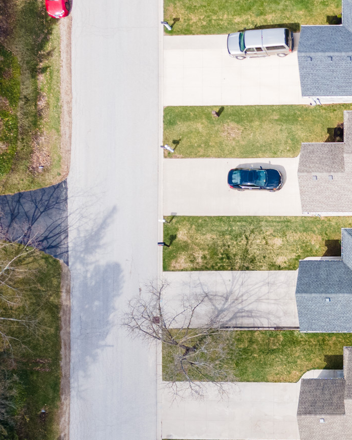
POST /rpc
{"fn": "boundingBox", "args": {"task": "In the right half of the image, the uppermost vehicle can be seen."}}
[231,30,295,61]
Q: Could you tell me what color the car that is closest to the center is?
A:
blue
